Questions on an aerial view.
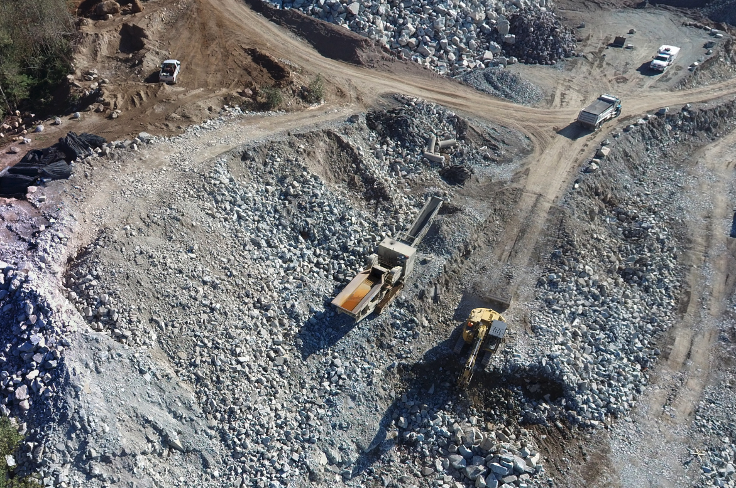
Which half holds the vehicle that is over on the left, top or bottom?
top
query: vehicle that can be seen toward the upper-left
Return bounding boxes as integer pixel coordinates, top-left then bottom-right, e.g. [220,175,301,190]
[161,58,183,77]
